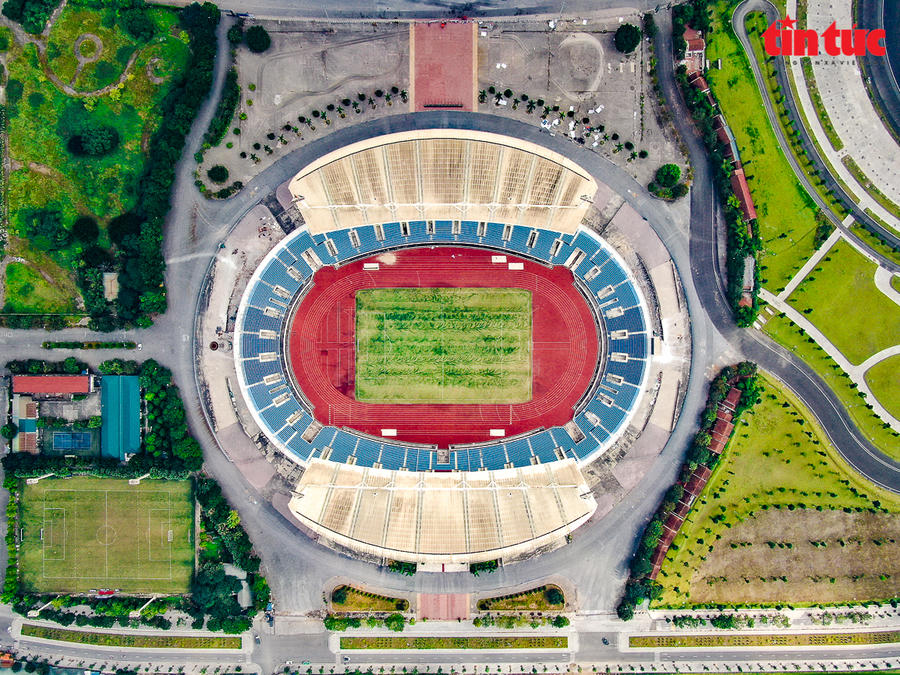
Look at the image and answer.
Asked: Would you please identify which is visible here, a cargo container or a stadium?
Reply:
stadium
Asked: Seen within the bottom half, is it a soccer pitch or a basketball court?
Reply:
soccer pitch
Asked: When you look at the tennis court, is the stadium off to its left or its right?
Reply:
to its right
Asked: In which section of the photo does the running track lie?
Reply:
center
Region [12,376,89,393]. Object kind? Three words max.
building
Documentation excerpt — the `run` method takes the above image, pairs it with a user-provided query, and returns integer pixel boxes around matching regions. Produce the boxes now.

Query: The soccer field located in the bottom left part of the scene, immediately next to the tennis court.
[20,478,194,593]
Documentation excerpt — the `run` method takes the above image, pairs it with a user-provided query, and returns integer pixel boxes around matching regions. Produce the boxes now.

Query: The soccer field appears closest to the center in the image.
[355,287,533,403]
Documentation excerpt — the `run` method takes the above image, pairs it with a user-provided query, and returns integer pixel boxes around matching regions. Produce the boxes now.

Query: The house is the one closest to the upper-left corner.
[104,272,120,300]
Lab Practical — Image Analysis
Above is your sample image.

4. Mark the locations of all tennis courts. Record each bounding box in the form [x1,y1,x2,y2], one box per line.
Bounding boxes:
[39,426,101,456]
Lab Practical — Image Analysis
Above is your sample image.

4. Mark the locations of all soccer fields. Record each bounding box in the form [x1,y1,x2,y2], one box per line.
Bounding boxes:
[355,287,533,403]
[20,478,194,593]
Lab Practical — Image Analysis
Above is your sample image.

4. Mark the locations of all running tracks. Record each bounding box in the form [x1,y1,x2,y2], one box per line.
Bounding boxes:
[287,247,602,448]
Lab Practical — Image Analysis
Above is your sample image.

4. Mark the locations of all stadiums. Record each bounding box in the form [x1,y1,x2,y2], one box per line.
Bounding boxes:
[234,128,655,562]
